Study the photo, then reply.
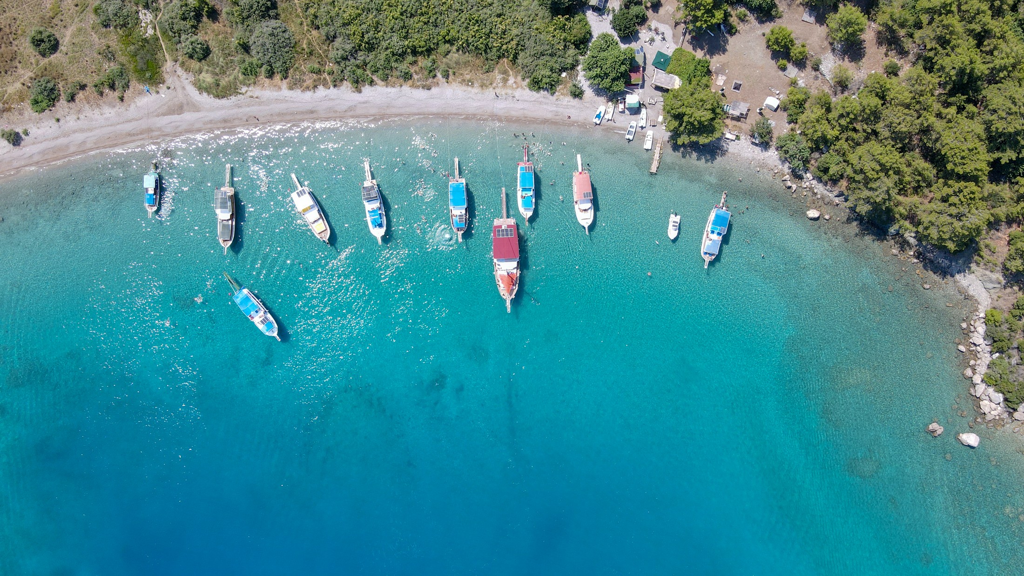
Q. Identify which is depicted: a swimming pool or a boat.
boat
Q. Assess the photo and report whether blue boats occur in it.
Yes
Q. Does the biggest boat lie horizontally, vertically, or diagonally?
vertically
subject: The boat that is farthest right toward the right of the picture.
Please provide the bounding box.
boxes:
[702,191,731,268]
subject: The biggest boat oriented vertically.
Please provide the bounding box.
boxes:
[492,187,521,312]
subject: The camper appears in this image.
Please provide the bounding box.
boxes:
[762,96,779,111]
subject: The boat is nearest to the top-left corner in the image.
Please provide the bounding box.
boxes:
[143,163,162,218]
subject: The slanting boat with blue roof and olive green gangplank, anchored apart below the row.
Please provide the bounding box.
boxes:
[224,271,281,341]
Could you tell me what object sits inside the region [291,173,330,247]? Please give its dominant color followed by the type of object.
white boat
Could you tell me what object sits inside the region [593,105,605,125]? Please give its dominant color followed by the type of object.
white boat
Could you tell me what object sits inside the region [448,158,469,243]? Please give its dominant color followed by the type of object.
blue boat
